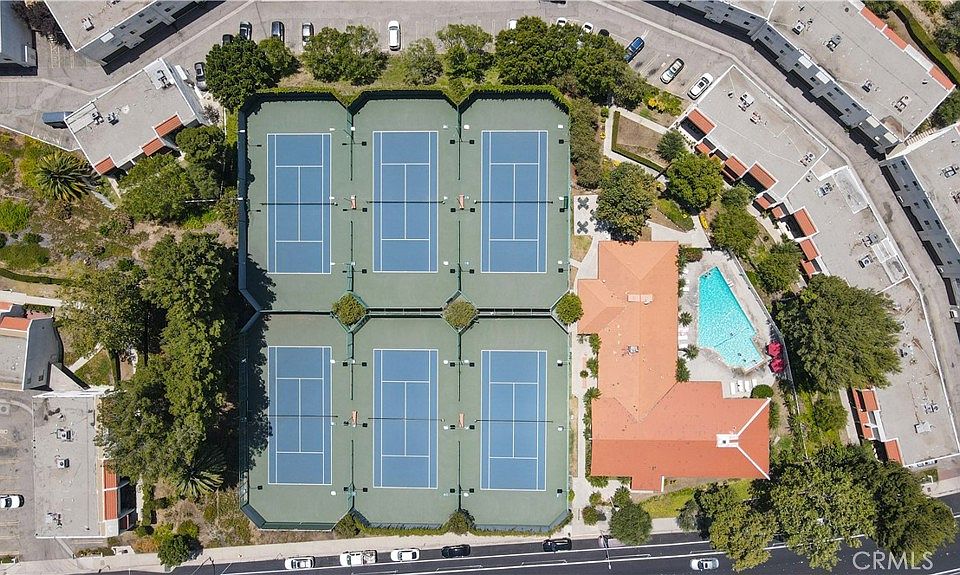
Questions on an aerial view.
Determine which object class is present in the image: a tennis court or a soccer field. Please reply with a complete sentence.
The one in the frame is a tennis court.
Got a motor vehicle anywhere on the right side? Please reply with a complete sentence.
Yes, a motor vehicle appears on the right side.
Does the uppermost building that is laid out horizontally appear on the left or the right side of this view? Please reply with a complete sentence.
It is on the left.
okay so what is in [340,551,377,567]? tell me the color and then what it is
white vehicle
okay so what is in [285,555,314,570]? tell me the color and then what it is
white car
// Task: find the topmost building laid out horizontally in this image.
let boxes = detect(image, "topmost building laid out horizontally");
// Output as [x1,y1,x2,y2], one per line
[44,0,205,67]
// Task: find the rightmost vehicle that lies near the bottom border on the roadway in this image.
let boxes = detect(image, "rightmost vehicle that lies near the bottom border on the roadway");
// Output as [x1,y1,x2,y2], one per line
[690,556,718,571]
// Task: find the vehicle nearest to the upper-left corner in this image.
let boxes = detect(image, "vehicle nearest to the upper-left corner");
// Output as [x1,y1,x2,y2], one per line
[40,111,70,124]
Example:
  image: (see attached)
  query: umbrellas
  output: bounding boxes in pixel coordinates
[769,356,785,372]
[766,340,782,356]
